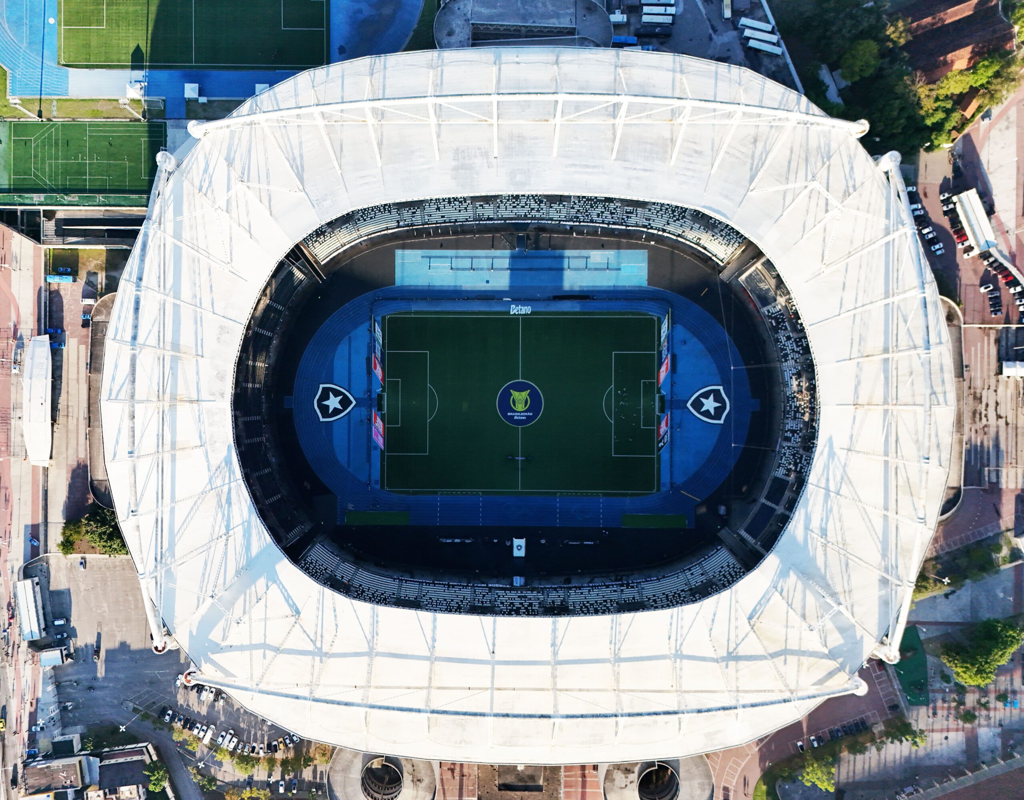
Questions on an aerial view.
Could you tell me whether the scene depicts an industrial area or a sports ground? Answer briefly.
sports ground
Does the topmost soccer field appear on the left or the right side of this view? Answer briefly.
left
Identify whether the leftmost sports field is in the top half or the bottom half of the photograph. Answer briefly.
top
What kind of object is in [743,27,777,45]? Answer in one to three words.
vehicle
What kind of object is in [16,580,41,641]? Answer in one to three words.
building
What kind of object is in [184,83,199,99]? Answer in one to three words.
gazebo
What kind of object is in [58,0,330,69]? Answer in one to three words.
soccer field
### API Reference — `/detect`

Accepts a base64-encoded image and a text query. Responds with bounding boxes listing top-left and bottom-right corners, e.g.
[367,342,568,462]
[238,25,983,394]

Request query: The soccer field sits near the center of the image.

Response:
[380,311,661,497]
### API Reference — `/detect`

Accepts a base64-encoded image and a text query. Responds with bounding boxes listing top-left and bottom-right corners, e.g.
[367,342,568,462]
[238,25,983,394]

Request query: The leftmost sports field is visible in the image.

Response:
[9,121,167,193]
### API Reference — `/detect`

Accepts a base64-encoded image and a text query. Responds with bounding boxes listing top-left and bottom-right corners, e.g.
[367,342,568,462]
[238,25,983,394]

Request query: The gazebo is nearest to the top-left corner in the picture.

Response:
[126,84,144,99]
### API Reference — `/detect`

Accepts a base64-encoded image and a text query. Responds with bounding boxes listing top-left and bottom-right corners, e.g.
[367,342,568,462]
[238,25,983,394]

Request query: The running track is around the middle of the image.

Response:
[285,285,759,528]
